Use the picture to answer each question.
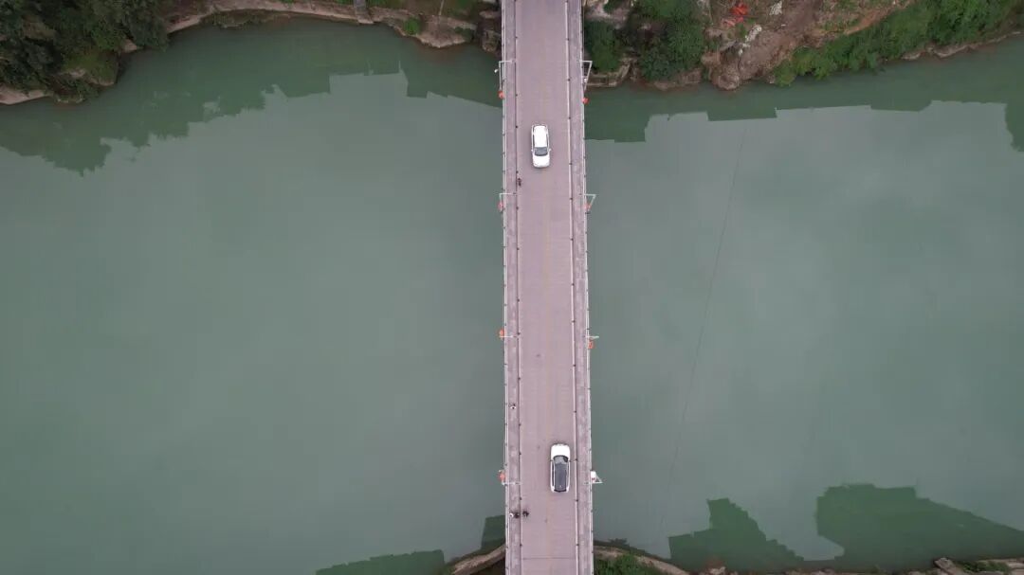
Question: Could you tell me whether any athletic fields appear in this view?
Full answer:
No, the frame has no athletic field in it.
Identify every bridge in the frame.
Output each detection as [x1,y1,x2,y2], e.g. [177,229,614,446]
[500,0,595,575]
